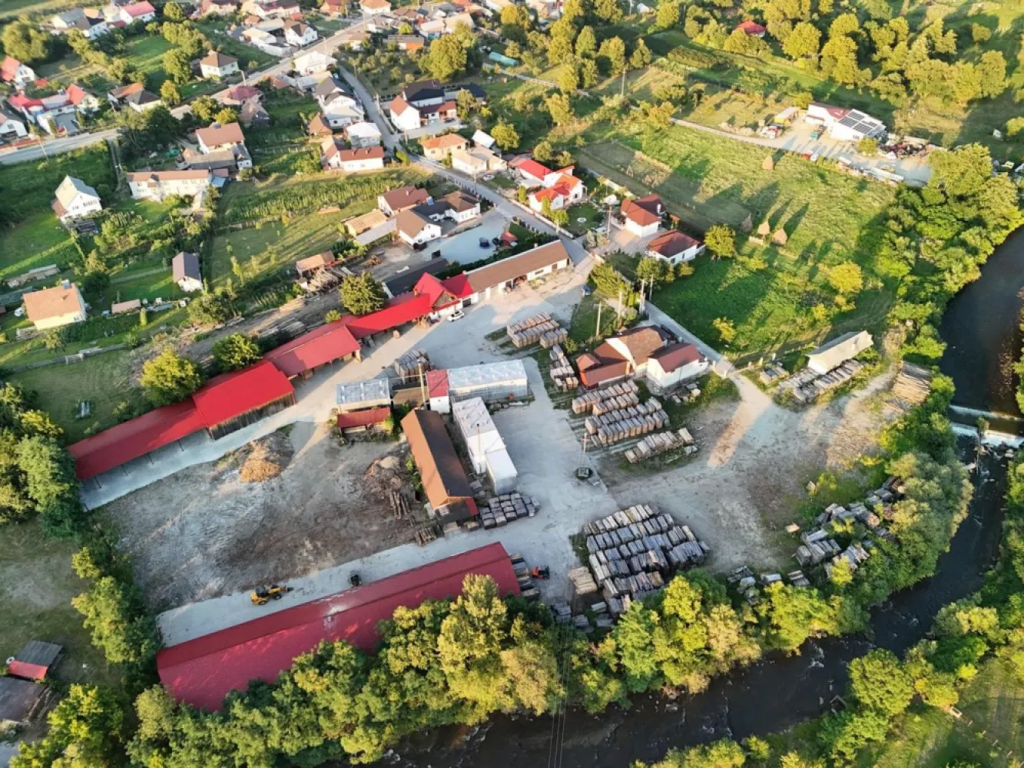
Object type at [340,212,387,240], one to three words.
shed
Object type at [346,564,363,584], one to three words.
work vehicle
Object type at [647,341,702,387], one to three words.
house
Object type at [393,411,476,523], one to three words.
building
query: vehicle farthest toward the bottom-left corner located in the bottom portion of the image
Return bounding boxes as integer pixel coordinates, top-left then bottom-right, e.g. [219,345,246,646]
[242,581,290,608]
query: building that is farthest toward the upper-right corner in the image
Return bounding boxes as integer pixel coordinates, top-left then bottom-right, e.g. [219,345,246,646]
[805,104,890,148]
